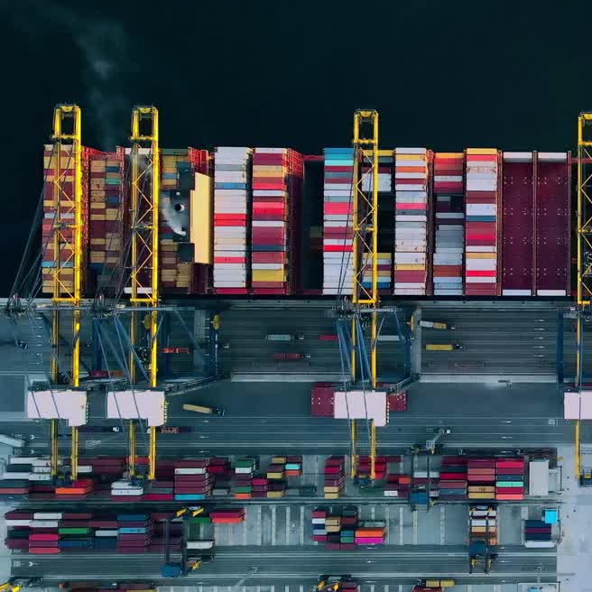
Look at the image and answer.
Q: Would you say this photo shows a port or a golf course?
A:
port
